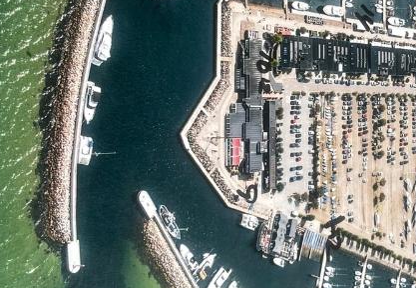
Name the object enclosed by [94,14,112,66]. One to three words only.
boat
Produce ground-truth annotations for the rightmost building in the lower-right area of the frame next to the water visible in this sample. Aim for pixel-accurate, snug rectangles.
[302,229,331,249]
